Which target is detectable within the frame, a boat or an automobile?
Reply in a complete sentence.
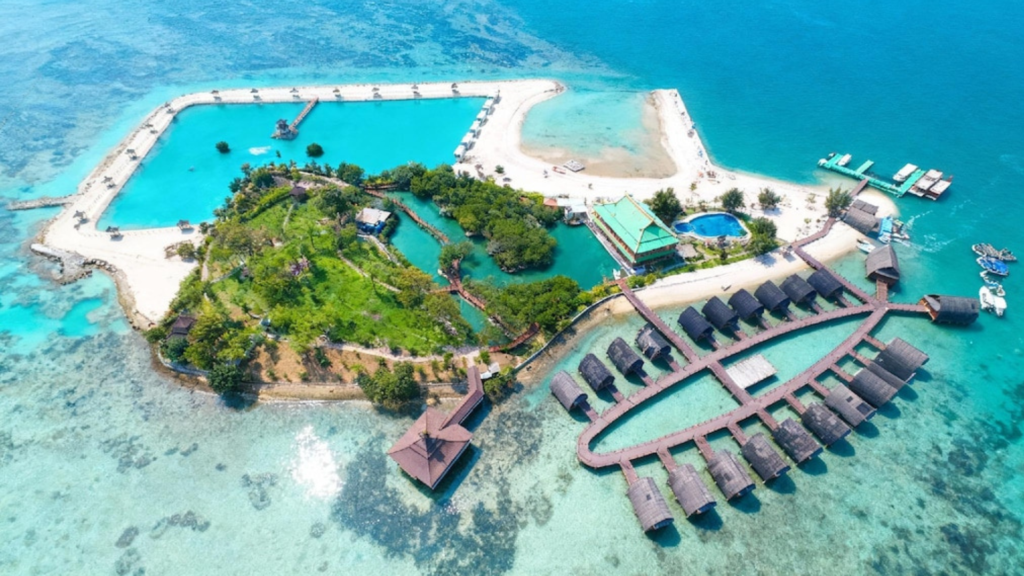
Of the two, only a boat appears.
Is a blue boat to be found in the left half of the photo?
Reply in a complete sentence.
No, no blue boat appears in the left half of the photo.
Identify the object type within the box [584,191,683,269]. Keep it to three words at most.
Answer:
building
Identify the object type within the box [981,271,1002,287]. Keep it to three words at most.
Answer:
boat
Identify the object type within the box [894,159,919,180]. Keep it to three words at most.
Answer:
boat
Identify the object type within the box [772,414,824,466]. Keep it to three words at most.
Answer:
shed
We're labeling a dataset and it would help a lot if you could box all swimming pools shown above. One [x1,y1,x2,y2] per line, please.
[688,211,751,239]
[673,221,695,234]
